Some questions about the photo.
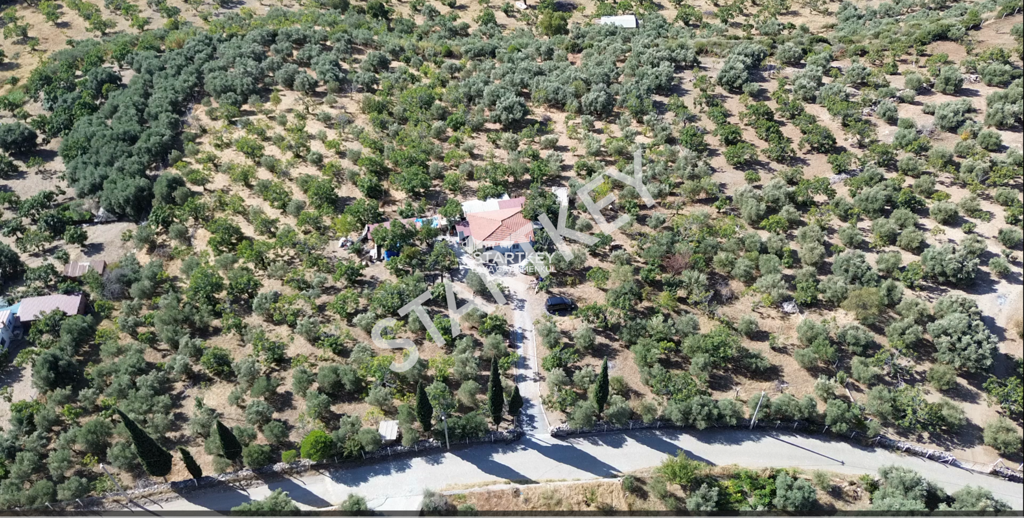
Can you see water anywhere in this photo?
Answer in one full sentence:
No, no water is visible.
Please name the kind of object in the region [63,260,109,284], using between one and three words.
building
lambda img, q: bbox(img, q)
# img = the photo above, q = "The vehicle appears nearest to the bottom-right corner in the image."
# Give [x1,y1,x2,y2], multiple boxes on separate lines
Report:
[544,298,575,316]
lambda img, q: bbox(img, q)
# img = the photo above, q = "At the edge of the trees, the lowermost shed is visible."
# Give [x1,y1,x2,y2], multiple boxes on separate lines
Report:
[378,420,401,448]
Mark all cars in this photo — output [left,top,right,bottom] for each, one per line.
[510,258,536,276]
[544,298,575,316]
